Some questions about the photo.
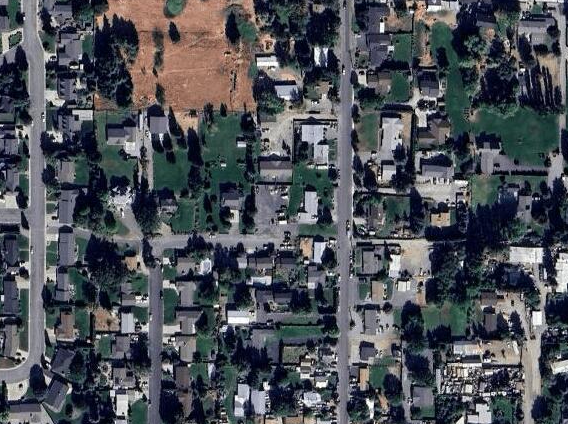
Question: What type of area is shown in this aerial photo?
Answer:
residential area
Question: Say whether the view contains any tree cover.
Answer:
Yes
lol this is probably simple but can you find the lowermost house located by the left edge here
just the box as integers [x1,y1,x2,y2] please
[7,403,41,422]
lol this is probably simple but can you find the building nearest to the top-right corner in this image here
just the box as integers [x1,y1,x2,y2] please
[518,17,554,44]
